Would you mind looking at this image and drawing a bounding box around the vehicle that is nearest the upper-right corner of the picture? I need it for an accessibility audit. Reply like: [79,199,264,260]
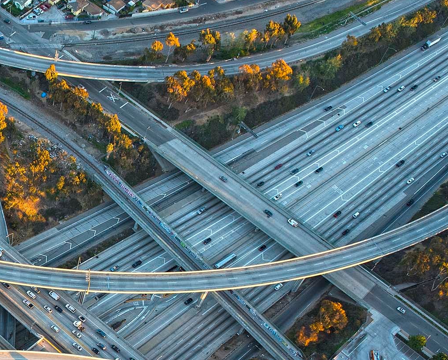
[416,32,444,53]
